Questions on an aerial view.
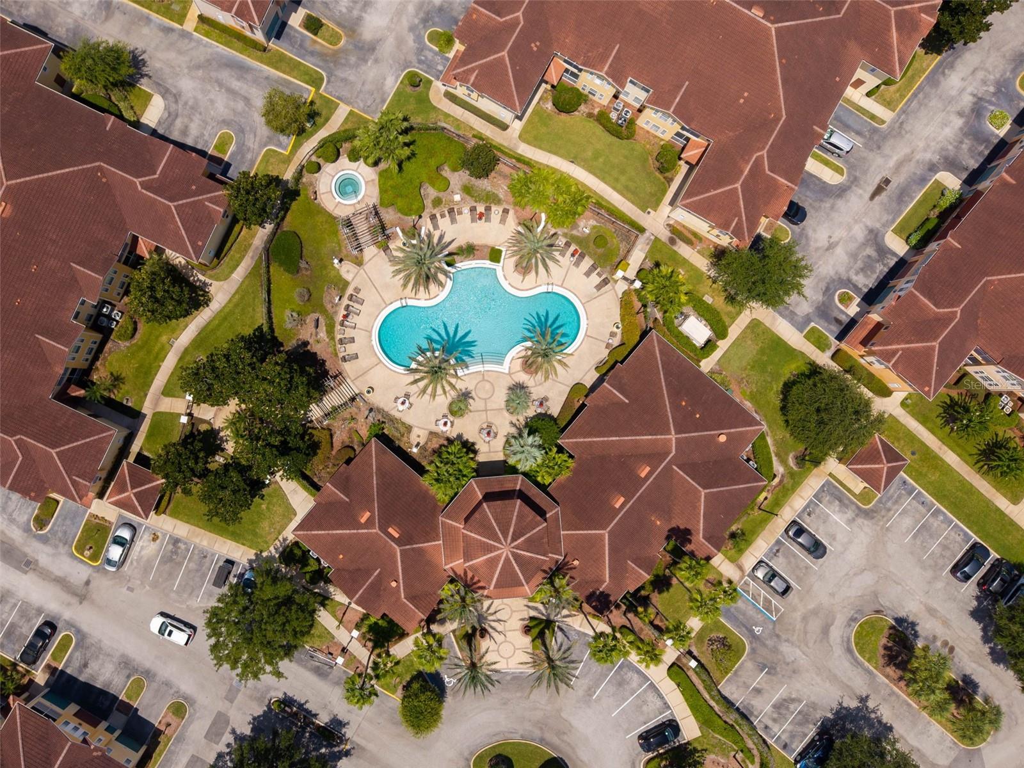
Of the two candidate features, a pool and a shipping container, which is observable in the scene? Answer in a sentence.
Visible in the photo is a pool.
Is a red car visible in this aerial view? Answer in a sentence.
No, the picture doesn't show any red car.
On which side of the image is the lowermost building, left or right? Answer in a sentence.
It is on the left.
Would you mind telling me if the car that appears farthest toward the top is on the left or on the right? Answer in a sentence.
The car that appears farthest toward the top appears in the right half of the scene.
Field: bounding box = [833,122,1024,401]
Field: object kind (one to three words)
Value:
building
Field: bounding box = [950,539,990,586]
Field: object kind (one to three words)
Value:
car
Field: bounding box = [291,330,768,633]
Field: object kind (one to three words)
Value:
building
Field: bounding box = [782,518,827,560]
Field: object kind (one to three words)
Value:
car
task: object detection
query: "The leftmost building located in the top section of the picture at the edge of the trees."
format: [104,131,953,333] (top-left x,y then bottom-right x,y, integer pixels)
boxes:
[0,17,235,509]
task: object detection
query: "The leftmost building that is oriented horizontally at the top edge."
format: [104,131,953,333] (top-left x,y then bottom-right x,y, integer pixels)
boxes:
[200,0,292,42]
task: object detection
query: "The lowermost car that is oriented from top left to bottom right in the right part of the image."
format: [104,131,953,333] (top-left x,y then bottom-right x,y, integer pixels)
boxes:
[748,558,796,601]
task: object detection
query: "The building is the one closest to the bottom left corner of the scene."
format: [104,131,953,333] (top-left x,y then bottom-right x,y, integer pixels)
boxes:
[0,687,183,768]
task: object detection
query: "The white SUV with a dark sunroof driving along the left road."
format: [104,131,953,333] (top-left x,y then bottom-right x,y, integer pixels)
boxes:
[146,610,201,647]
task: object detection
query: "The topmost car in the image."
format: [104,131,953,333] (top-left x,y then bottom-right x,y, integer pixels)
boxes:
[816,127,858,159]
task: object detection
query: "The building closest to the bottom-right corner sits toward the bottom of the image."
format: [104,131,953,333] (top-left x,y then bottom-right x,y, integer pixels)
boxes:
[833,433,910,496]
